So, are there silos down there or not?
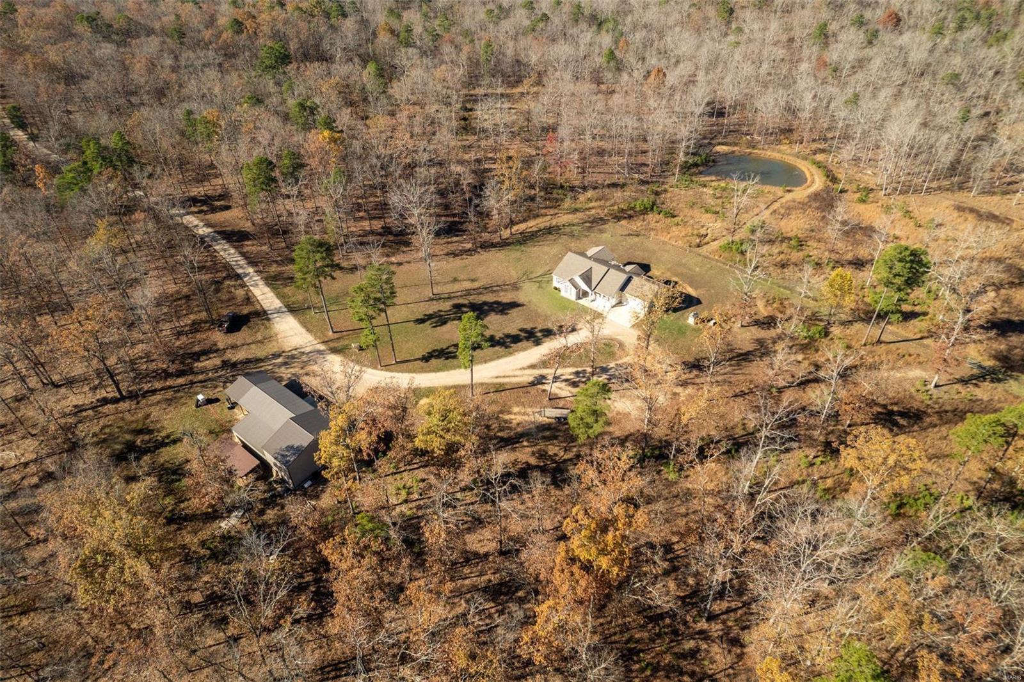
No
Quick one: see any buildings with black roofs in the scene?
No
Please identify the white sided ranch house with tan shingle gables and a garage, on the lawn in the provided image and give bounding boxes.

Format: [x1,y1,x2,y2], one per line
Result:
[551,246,680,316]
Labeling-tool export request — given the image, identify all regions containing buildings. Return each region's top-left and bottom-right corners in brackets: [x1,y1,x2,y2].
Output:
[551,246,680,316]
[222,370,344,487]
